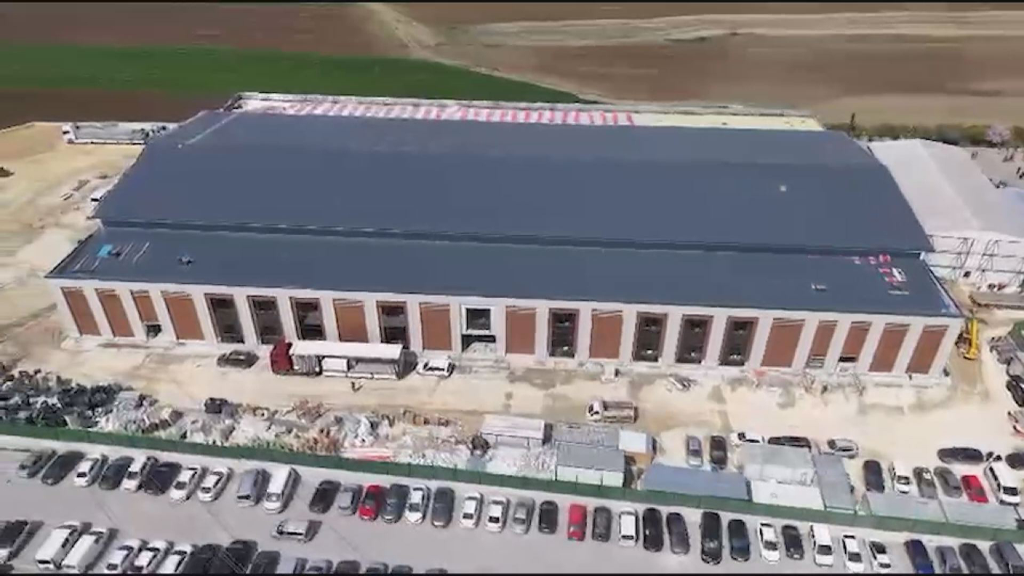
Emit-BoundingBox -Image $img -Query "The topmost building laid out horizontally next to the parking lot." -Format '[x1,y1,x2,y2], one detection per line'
[42,94,972,394]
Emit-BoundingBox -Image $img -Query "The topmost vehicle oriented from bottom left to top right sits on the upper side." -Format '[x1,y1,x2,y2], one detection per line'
[84,187,114,208]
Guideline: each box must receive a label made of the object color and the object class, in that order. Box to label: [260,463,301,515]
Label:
white vehicle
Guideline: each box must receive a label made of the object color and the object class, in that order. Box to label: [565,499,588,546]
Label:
red car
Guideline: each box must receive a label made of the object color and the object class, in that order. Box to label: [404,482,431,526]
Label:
white car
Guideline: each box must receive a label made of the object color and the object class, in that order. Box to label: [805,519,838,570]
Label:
white car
